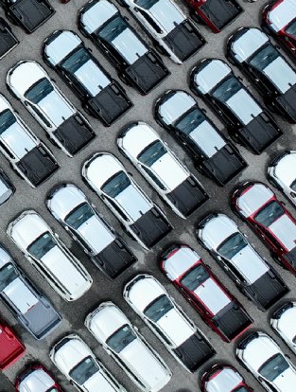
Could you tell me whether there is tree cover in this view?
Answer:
No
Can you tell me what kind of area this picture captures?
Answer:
parking lot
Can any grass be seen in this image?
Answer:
No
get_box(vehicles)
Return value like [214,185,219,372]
[78,0,173,99]
[16,368,65,392]
[254,154,296,221]
[86,304,174,392]
[43,28,137,131]
[226,26,296,128]
[235,331,296,392]
[47,183,142,284]
[190,58,287,160]
[182,0,246,37]
[0,247,64,344]
[123,271,220,374]
[52,336,126,392]
[0,93,64,192]
[154,89,252,190]
[231,180,296,280]
[258,304,296,369]
[118,0,210,68]
[9,212,95,305]
[116,121,214,222]
[4,59,99,162]
[81,153,176,257]
[201,363,254,392]
[0,314,28,373]
[159,243,255,346]
[0,0,58,38]
[195,212,294,313]
[256,0,296,69]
